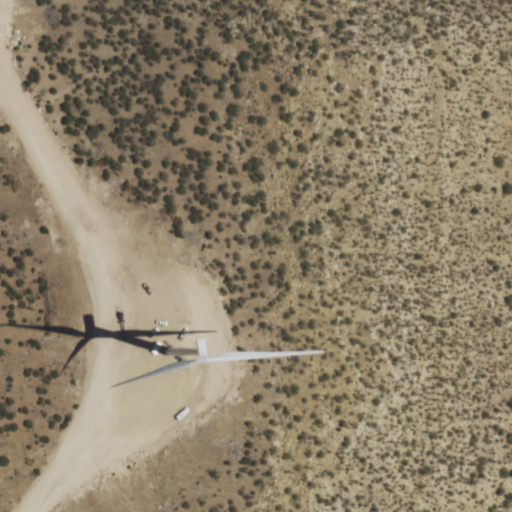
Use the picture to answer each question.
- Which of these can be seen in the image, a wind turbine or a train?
wind turbine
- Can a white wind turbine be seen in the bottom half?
Yes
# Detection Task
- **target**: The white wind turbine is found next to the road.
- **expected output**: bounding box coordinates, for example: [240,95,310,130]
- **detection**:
[112,338,320,386]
